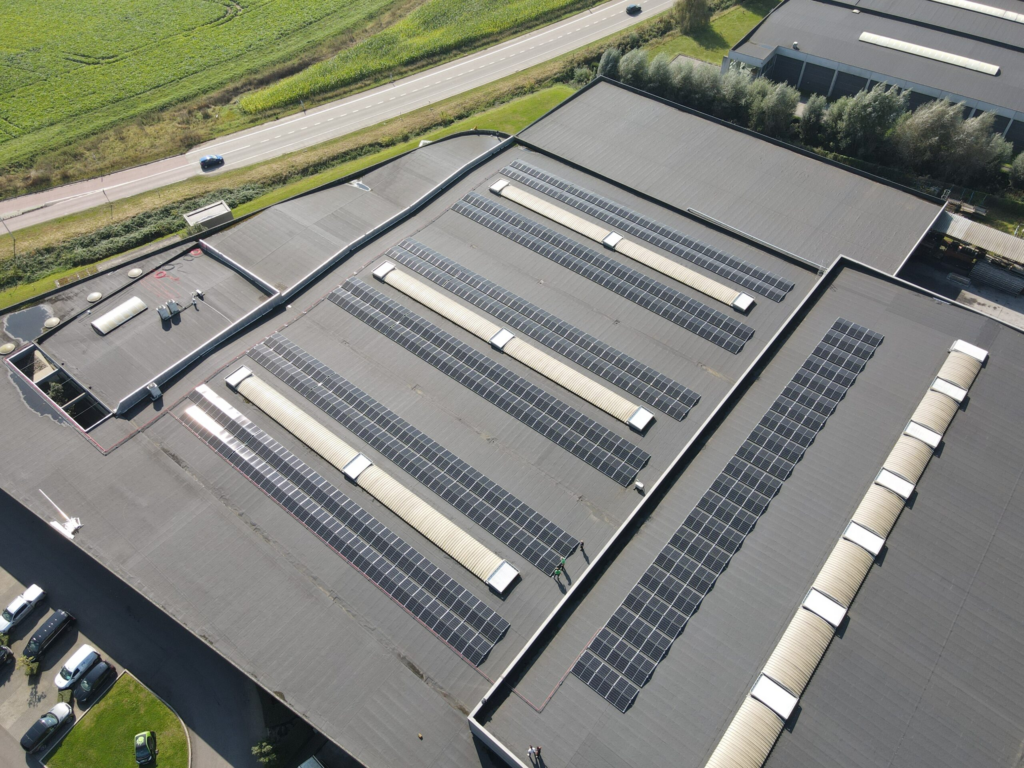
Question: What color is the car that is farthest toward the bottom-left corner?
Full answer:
The car that is farthest toward the bottom-left corner looks black in the image.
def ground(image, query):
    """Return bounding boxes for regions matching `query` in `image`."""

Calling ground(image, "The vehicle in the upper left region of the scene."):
[197,155,223,169]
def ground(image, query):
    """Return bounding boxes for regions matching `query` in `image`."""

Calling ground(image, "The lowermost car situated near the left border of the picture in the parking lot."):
[17,706,75,758]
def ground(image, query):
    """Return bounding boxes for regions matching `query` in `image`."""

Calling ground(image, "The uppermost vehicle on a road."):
[625,3,643,15]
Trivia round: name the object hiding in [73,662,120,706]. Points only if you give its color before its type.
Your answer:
black car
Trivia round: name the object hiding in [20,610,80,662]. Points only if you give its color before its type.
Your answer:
black car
